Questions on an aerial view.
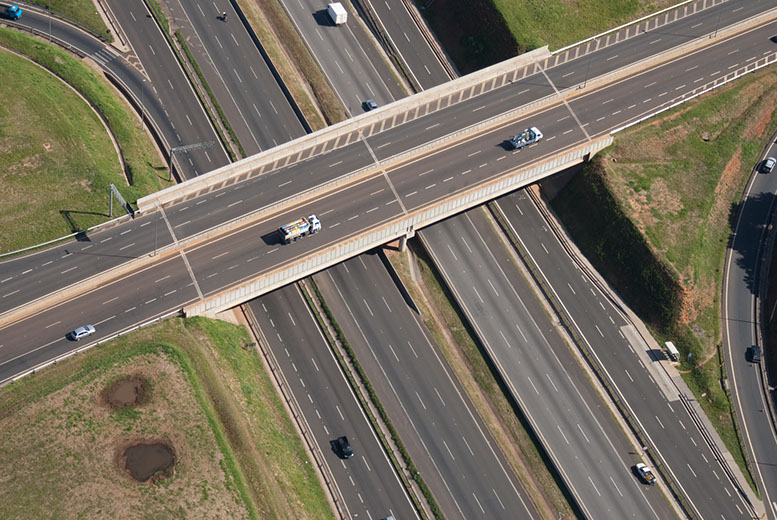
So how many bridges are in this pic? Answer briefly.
one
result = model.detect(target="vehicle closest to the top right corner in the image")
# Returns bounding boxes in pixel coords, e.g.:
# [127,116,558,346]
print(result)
[762,154,776,171]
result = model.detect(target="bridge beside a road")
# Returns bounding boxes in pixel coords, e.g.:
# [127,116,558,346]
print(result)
[137,43,618,327]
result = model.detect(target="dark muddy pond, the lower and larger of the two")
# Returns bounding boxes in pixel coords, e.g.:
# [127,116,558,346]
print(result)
[121,443,179,483]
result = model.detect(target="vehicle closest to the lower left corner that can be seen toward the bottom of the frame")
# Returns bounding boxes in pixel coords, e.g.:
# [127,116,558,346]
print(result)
[68,325,95,341]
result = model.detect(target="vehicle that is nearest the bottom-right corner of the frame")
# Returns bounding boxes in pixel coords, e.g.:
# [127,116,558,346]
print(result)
[636,465,659,489]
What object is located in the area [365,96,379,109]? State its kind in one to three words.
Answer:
vehicle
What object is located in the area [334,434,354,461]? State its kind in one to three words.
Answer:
vehicle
